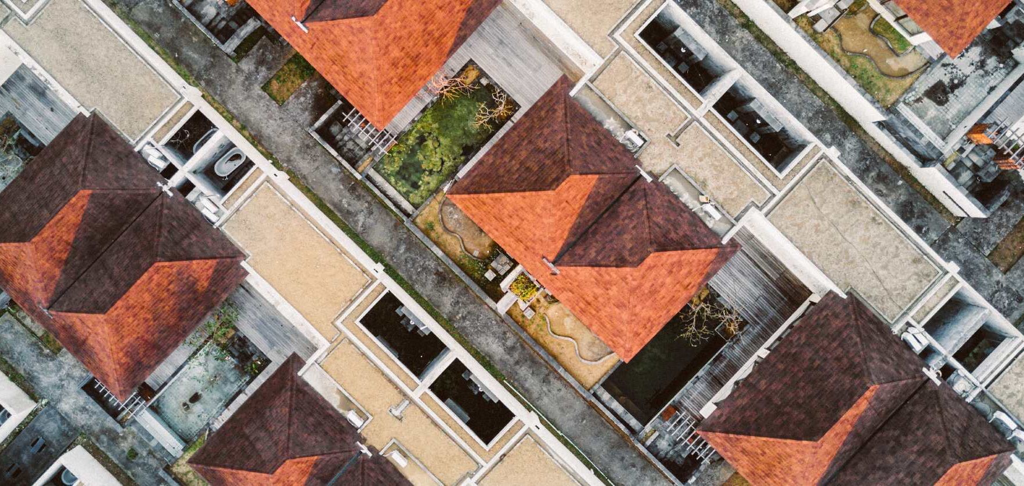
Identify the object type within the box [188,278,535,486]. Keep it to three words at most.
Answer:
house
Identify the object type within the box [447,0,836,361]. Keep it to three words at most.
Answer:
house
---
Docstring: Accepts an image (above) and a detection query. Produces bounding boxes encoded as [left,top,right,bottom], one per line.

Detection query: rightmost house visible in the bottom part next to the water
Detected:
[696,150,1024,486]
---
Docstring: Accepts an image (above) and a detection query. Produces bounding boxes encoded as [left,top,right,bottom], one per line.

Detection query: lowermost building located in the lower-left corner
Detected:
[33,446,125,486]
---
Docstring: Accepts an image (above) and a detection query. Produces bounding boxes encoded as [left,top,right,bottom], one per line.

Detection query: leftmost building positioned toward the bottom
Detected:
[0,374,35,442]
